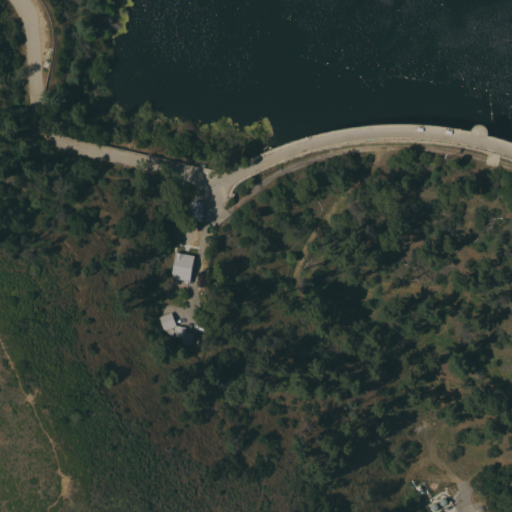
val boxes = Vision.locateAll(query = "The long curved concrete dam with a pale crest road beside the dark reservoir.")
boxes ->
[234,124,512,184]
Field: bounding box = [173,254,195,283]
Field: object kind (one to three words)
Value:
house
